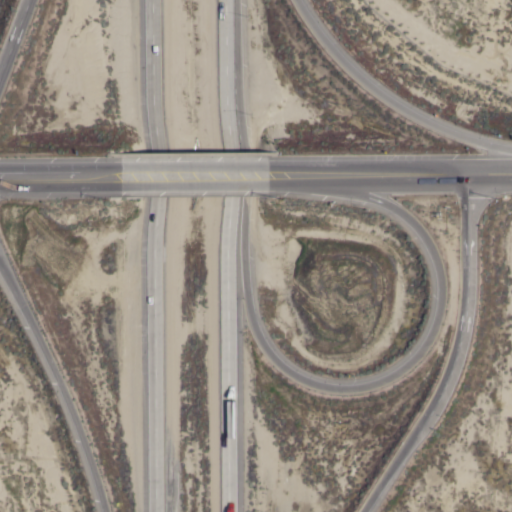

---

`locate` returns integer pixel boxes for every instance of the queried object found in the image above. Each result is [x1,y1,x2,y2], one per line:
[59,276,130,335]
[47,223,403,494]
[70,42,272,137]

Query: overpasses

[110,152,282,198]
